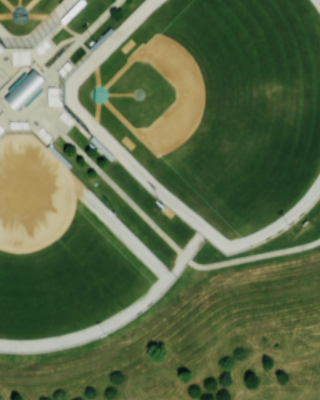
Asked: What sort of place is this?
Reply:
sports ground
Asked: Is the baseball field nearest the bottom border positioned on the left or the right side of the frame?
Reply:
left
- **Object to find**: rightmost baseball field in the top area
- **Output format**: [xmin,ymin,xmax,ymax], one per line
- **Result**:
[65,0,320,256]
